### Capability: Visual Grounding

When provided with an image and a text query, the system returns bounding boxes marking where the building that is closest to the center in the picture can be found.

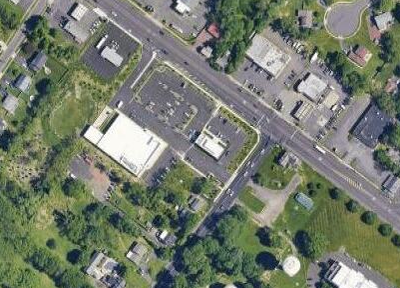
[195,136,224,161]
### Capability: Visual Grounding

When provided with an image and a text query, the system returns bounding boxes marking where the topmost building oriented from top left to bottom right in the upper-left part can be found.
[63,20,93,46]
